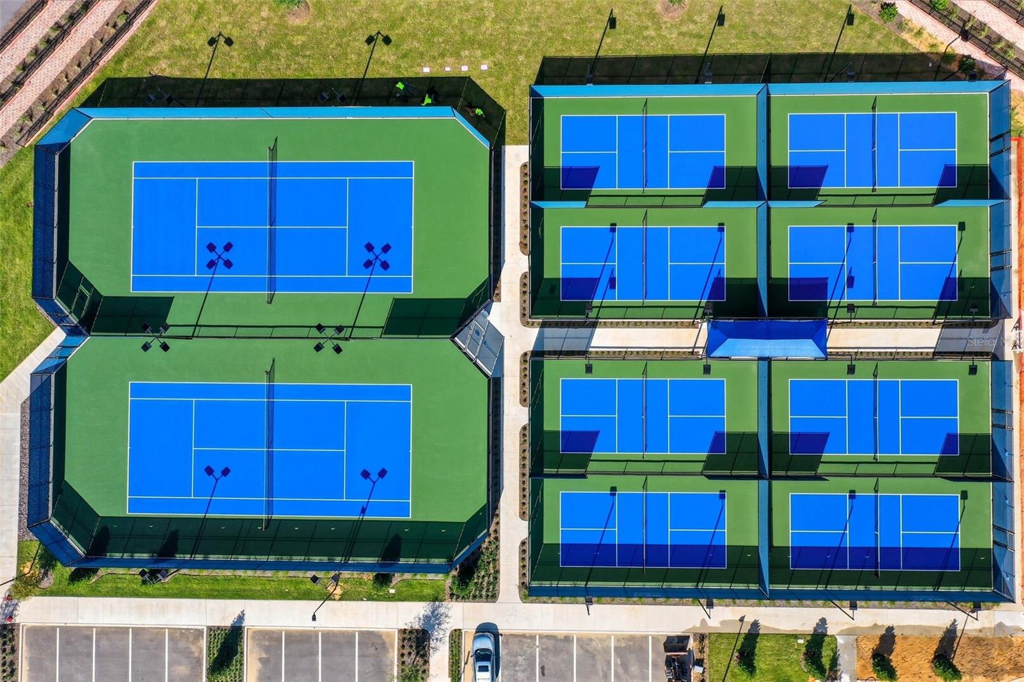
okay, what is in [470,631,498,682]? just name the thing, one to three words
car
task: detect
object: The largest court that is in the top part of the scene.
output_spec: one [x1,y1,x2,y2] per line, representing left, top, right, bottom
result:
[56,117,489,337]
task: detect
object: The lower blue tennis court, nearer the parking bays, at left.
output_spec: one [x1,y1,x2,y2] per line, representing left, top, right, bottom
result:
[53,337,489,562]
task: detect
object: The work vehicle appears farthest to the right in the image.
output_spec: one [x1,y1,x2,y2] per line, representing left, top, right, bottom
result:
[664,637,691,682]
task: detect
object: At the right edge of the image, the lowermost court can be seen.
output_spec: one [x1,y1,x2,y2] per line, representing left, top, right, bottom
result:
[770,477,993,589]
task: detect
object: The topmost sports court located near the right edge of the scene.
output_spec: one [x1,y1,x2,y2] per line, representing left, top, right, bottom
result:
[767,94,988,206]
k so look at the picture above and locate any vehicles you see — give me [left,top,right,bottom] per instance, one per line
[470,631,498,682]
[664,637,691,682]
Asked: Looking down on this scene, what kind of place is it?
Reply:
sports ground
